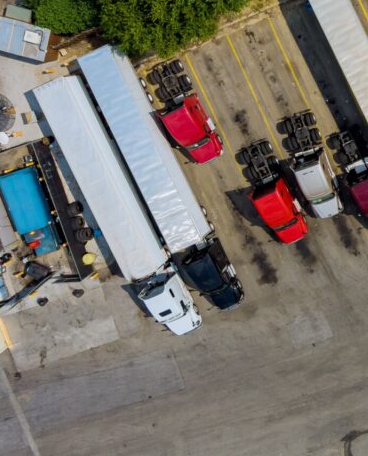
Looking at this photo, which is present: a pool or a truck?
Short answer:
truck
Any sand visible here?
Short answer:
No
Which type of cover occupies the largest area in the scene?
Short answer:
paved ground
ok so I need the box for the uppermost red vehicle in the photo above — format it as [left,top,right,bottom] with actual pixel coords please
[147,57,224,161]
